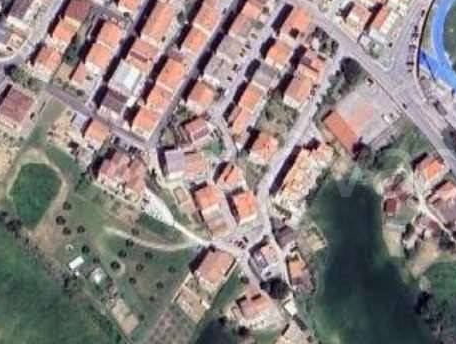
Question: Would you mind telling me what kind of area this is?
residential area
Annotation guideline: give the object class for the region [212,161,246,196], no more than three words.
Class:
house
